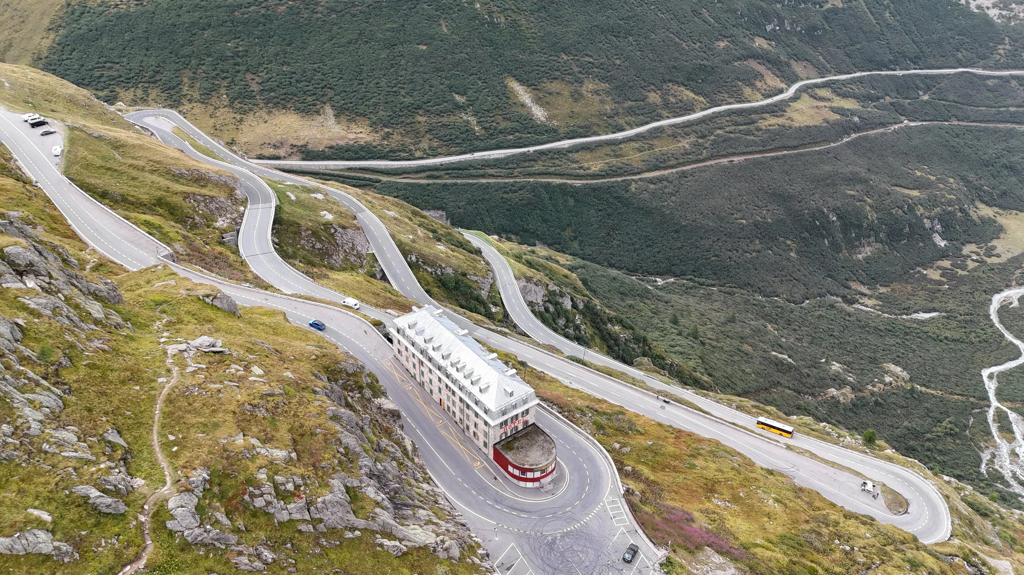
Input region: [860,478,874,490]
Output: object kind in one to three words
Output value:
vehicle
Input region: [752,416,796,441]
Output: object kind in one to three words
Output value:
bus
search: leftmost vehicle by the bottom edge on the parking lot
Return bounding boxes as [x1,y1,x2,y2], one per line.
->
[622,541,640,563]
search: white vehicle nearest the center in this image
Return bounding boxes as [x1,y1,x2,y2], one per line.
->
[344,297,362,310]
